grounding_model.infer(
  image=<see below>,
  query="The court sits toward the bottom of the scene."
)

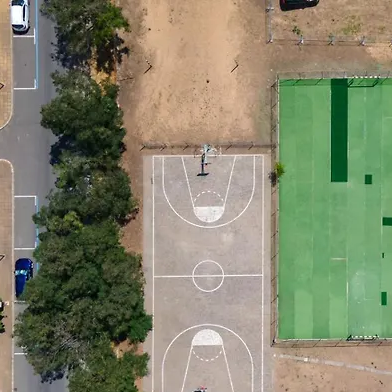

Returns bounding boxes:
[143,152,272,392]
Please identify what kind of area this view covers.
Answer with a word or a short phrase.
sports ground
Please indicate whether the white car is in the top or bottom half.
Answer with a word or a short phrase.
top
